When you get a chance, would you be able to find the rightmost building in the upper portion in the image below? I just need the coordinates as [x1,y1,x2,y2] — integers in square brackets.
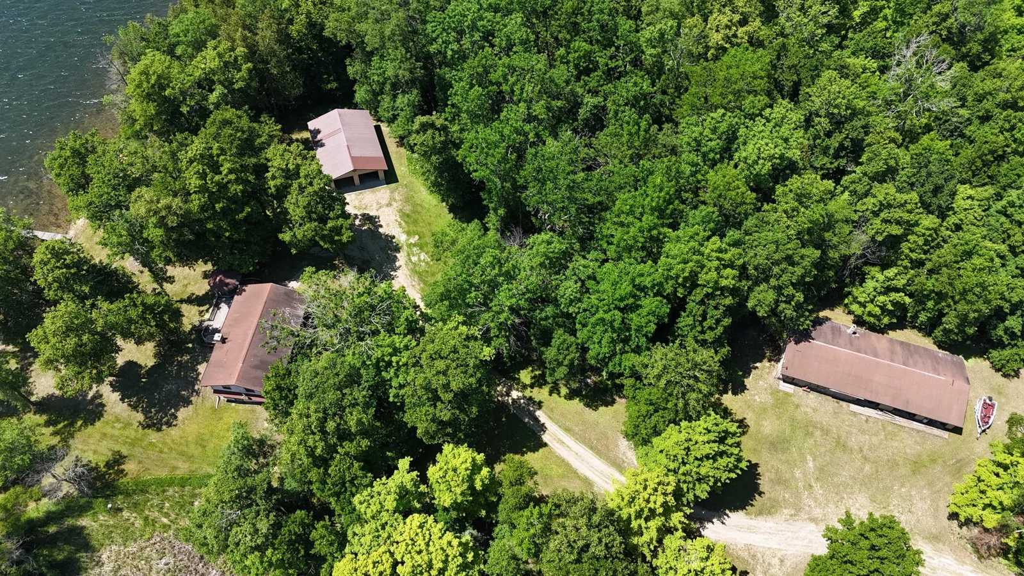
[308,108,388,196]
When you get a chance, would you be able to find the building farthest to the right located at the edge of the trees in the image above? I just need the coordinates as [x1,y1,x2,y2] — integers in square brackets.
[780,315,970,429]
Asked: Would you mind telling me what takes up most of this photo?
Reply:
trees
